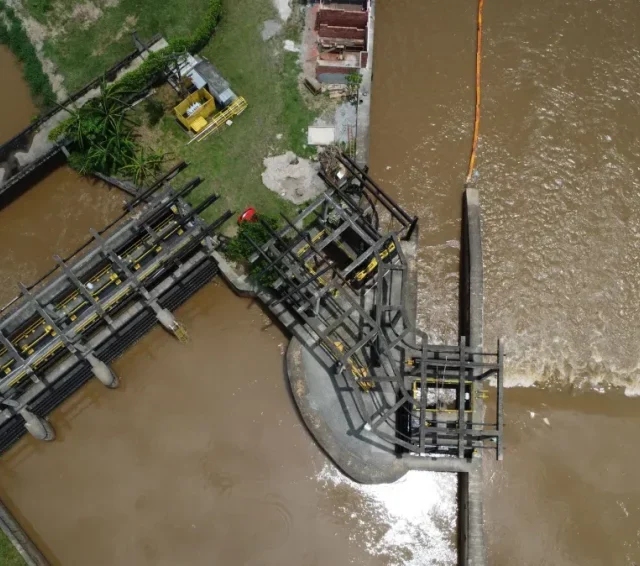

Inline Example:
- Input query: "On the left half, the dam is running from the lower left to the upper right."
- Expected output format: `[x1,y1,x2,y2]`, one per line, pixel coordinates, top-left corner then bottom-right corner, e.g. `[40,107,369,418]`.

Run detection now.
[0,160,233,449]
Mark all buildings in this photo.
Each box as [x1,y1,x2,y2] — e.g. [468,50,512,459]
[192,57,243,118]
[316,0,368,77]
